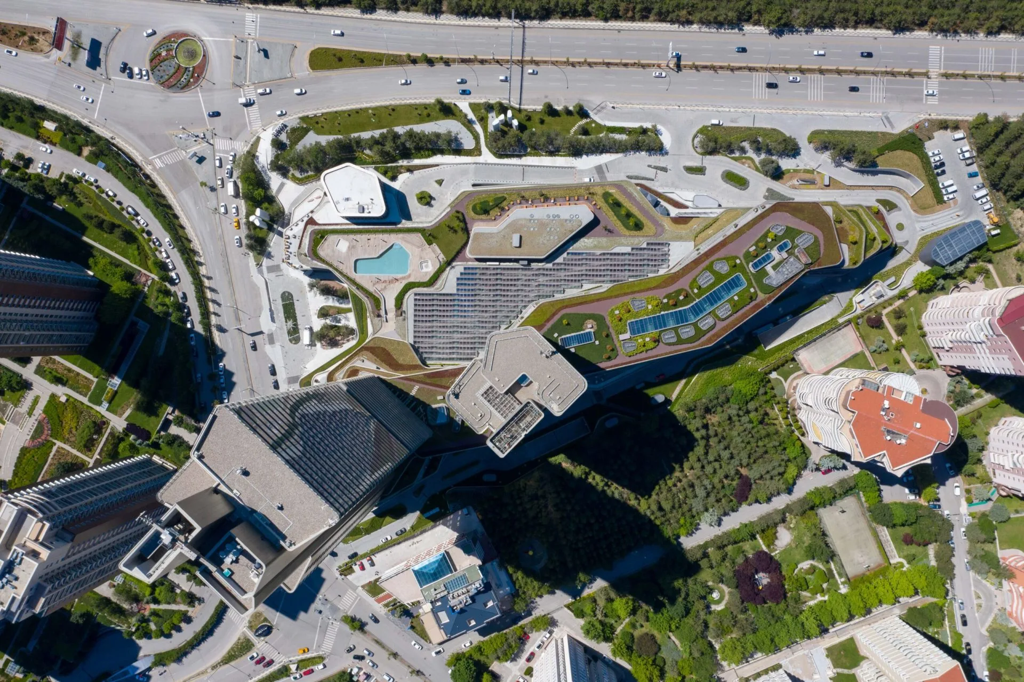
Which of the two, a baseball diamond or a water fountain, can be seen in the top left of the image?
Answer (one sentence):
You can see a water fountain in the top left of the image.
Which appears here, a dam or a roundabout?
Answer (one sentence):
It is a roundabout that can be seen here.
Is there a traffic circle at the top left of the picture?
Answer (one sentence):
Yes, I can see a traffic circle at the top left of the picture.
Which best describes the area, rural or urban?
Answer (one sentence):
The land in this view is best described as urban.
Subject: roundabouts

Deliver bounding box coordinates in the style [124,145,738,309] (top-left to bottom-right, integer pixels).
[149,32,207,91]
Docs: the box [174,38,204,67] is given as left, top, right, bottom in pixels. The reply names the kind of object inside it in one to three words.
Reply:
fountain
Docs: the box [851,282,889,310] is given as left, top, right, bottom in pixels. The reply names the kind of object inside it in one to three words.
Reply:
building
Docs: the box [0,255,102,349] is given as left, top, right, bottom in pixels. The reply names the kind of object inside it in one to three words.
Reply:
building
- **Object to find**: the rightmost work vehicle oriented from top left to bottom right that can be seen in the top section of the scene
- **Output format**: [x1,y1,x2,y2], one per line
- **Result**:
[983,210,1003,225]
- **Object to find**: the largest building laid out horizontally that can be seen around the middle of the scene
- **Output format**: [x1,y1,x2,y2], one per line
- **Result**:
[305,179,894,454]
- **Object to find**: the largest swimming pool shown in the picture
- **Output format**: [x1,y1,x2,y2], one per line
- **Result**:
[353,241,411,276]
